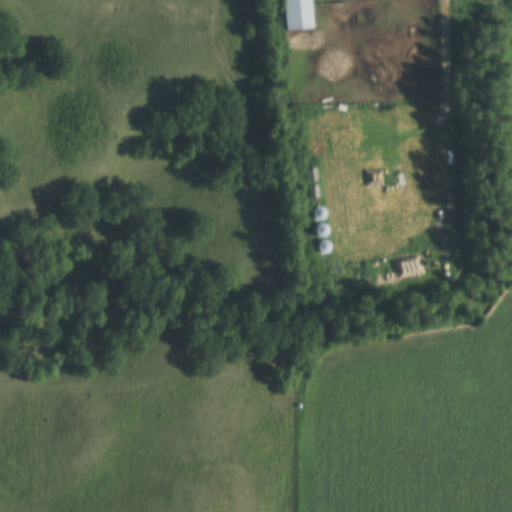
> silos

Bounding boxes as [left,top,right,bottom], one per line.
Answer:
[312,206,328,221]
[316,222,330,238]
[318,240,333,255]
